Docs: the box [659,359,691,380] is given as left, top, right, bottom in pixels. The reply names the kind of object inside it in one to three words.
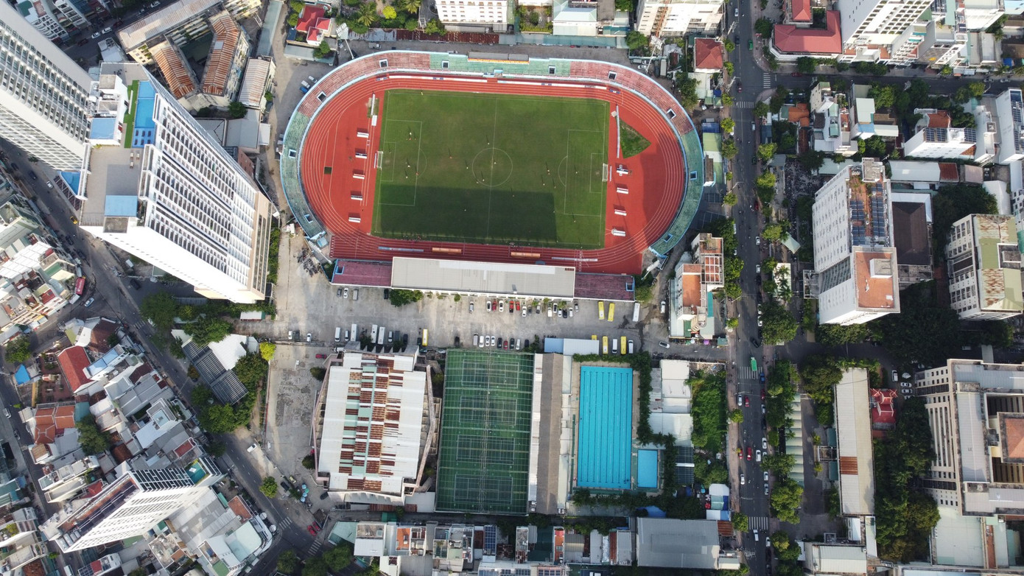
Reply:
building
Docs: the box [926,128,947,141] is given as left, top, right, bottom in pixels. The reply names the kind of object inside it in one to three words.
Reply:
solar array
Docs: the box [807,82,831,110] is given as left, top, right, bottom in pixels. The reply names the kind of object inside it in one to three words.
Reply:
house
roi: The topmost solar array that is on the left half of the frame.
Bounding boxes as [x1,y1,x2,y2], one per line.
[77,485,140,535]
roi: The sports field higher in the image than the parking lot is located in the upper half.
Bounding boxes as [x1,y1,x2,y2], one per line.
[371,89,609,248]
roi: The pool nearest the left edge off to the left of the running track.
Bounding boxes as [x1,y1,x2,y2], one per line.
[60,171,78,191]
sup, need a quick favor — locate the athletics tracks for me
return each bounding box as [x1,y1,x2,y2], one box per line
[303,75,683,274]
